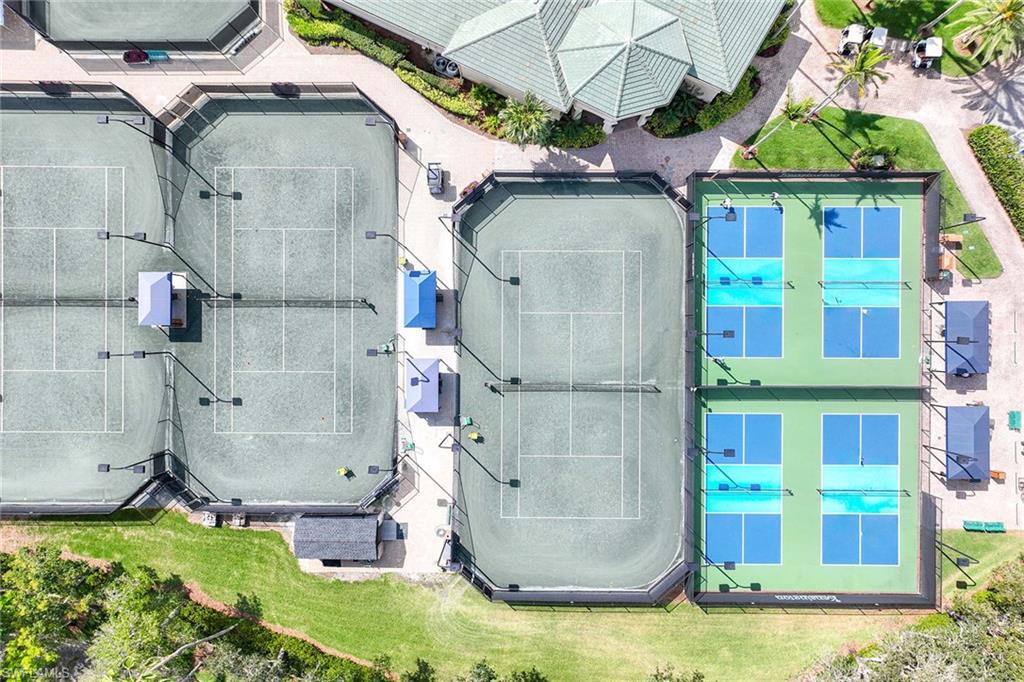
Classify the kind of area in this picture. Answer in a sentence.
The area seen from above is a sports ground.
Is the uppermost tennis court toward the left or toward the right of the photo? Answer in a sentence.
You can find the uppermost tennis court on the left side of the picture.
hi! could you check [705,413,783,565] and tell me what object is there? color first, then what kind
blue sports court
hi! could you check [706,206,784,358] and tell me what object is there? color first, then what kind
blue sports court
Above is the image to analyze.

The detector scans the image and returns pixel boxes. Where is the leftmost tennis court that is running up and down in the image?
[0,92,173,506]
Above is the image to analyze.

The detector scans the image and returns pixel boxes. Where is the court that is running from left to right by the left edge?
[26,0,264,57]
